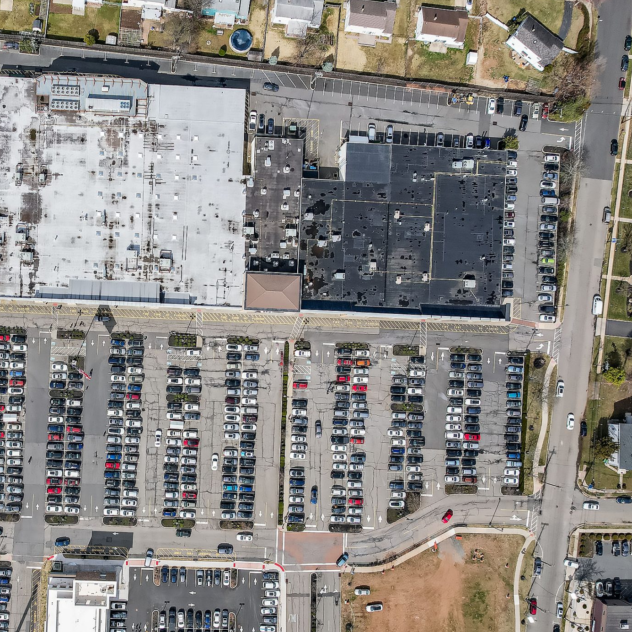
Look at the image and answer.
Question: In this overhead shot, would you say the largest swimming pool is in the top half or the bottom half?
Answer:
top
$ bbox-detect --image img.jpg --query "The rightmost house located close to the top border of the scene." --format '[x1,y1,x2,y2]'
[506,16,563,69]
